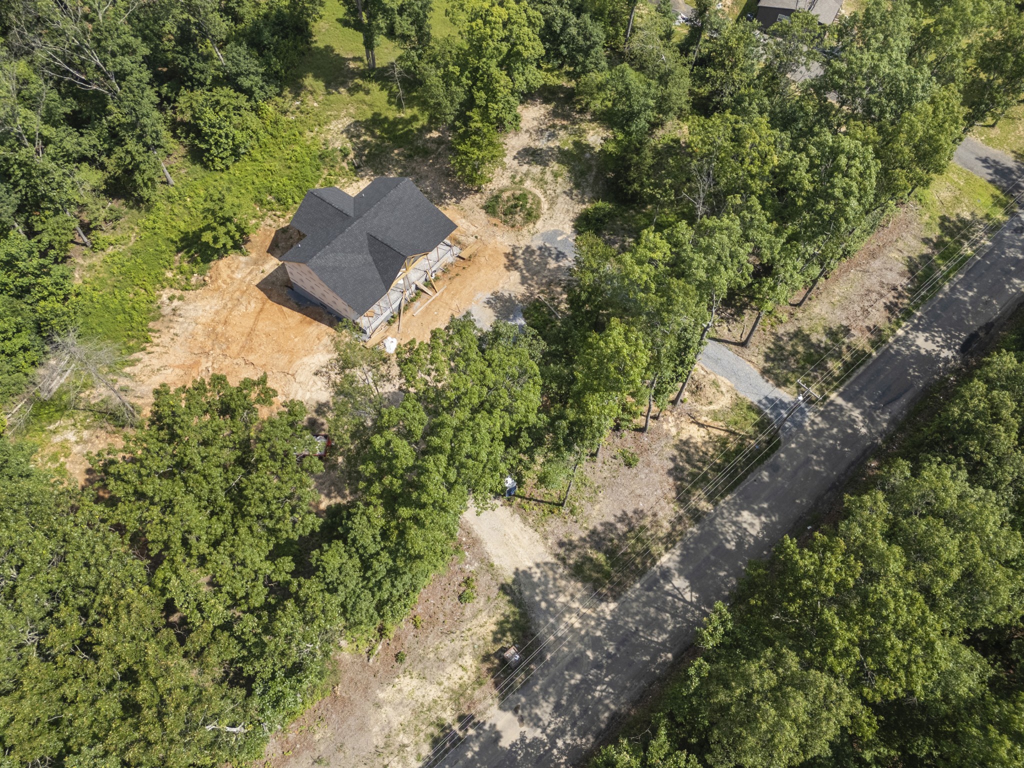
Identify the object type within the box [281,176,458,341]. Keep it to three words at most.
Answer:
house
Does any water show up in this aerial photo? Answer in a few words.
No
